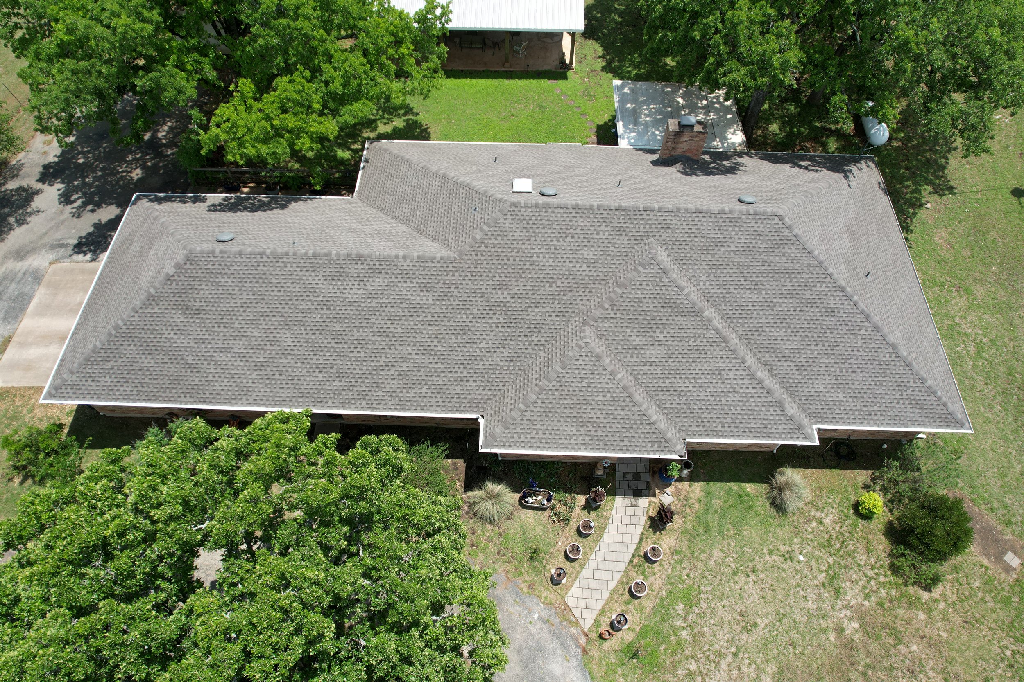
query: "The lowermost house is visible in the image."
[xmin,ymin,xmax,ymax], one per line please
[41,114,974,464]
